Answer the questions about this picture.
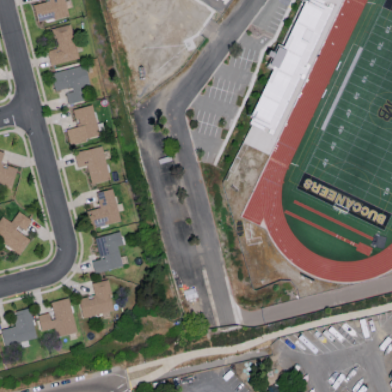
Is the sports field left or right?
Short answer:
right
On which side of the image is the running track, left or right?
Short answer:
right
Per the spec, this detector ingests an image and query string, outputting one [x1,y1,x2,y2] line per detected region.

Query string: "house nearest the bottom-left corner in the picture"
[0,308,36,348]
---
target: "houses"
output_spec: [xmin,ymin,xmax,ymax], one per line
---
[0,211,32,254]
[54,64,90,104]
[87,189,124,229]
[48,24,82,65]
[0,150,18,188]
[37,298,77,340]
[80,279,115,319]
[0,308,36,348]
[34,0,70,22]
[92,234,128,272]
[66,104,104,144]
[74,147,112,186]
